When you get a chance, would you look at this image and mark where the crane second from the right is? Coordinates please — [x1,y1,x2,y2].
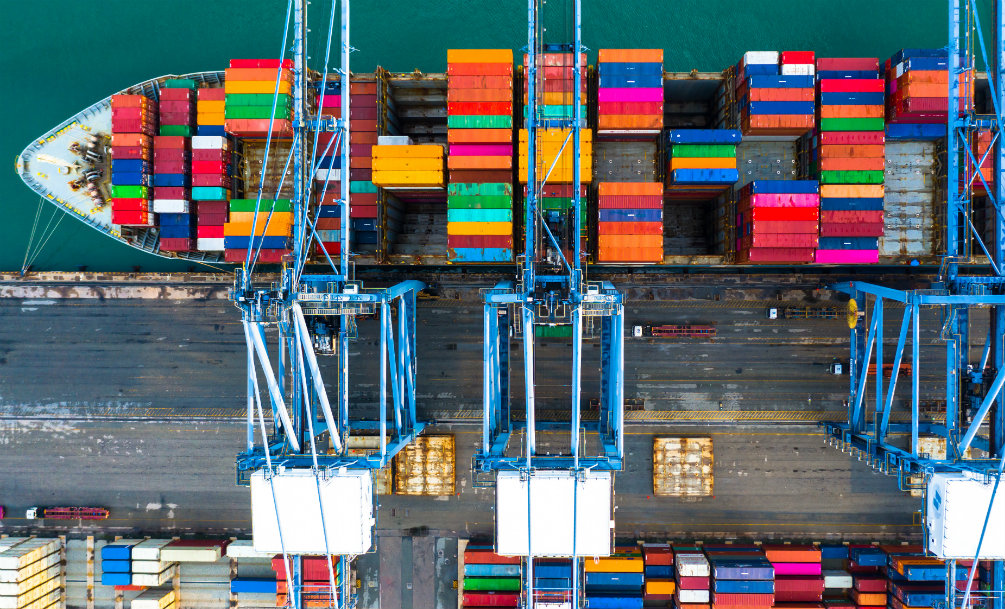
[472,0,632,609]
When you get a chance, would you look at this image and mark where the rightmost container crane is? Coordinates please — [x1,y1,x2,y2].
[806,0,1005,609]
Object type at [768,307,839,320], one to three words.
vehicle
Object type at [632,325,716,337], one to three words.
vehicle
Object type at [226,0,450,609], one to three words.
container crane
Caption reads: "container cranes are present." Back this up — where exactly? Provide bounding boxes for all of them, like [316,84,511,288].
[472,0,632,609]
[806,0,1005,609]
[226,0,450,609]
